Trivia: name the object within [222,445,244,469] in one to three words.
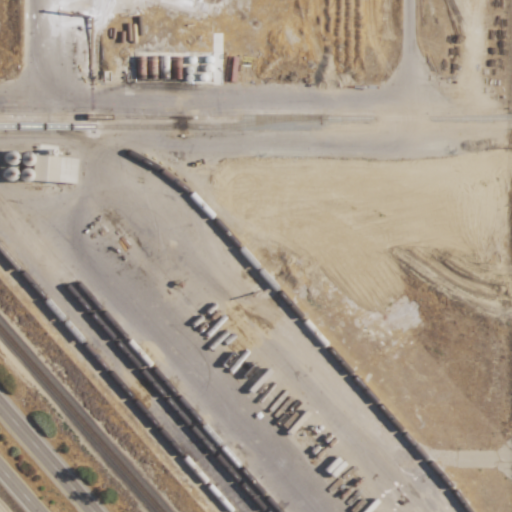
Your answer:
rail car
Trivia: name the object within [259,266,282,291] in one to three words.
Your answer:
rail car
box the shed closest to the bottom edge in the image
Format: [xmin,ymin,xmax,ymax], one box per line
[32,157,80,184]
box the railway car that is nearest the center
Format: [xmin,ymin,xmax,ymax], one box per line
[241,246,261,268]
